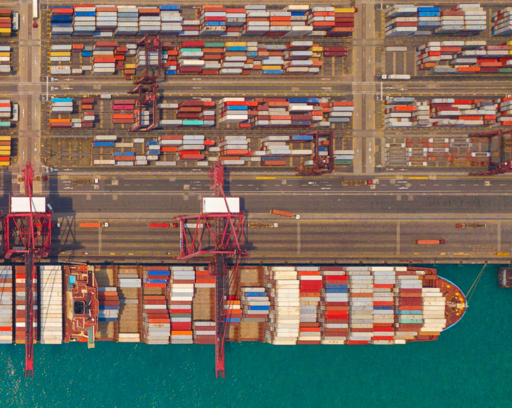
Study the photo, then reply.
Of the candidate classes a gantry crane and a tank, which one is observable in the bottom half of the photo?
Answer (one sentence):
Visible in the bottom half of the photo is a gantry crane.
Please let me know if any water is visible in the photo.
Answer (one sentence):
Yes, water shows up in the scene.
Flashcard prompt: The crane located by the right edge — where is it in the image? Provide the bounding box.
[471,130,512,176]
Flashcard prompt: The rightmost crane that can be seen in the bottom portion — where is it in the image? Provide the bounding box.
[170,160,244,379]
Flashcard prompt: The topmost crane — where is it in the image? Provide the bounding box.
[133,33,163,83]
